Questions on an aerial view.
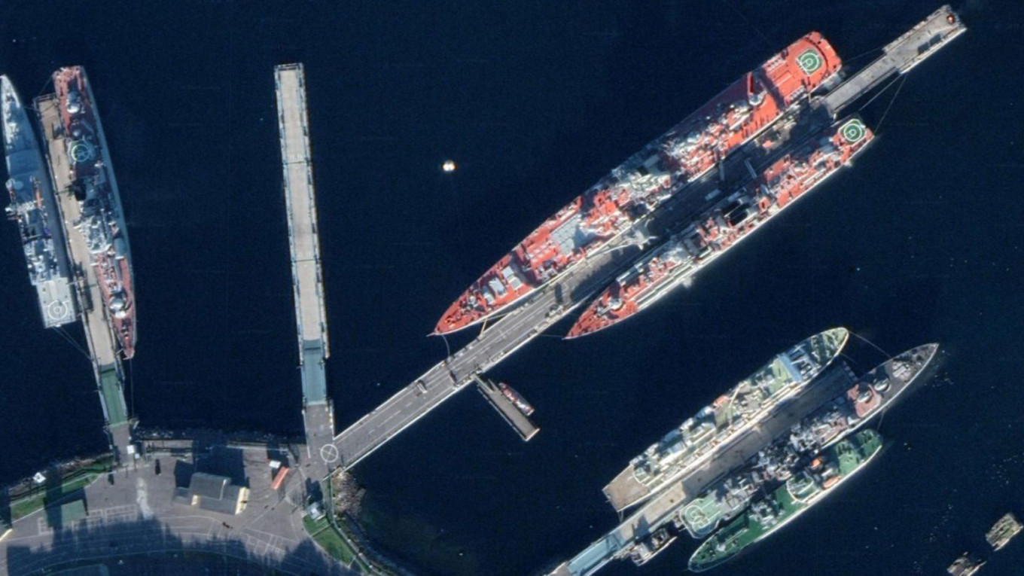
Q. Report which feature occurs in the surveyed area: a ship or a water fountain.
ship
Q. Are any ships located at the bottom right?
Yes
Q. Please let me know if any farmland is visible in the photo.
No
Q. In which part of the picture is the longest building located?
bottom left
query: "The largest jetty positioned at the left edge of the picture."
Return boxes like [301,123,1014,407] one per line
[34,92,140,468]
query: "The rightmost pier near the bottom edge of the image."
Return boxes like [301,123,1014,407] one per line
[565,357,861,576]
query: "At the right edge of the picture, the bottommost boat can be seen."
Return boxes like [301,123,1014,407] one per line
[945,550,987,576]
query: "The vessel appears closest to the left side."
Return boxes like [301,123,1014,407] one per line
[0,74,80,329]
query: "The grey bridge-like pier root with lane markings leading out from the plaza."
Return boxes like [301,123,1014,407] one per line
[329,353,466,469]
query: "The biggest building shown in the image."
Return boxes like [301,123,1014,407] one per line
[173,472,248,514]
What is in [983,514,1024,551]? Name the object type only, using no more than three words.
boat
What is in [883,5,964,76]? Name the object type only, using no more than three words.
pier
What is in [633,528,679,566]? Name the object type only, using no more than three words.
ship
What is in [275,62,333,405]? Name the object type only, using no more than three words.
pier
